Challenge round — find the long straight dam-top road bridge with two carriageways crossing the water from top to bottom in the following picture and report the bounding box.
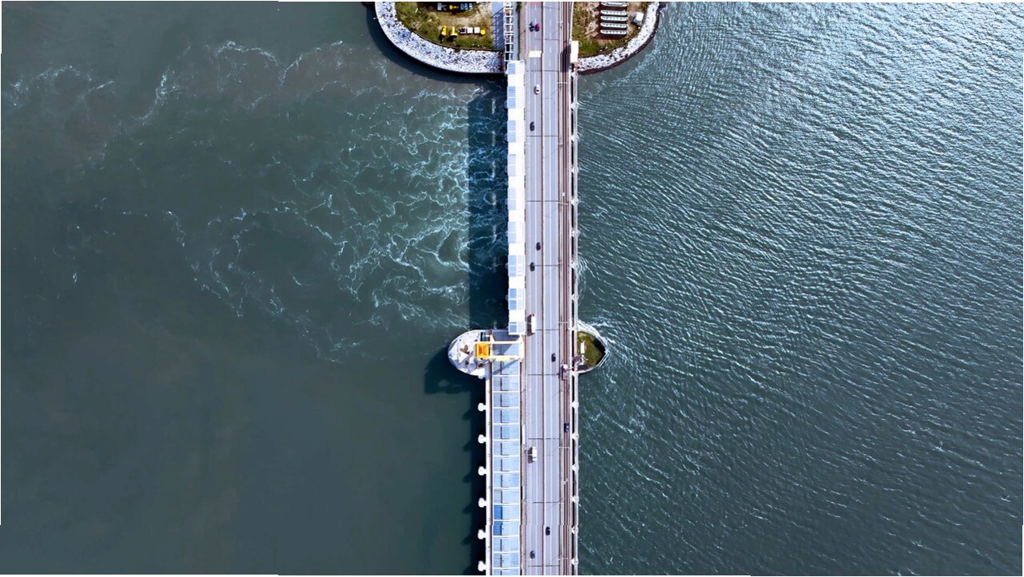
[478,0,577,577]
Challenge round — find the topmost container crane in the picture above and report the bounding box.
[474,329,524,360]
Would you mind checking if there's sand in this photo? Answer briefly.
No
